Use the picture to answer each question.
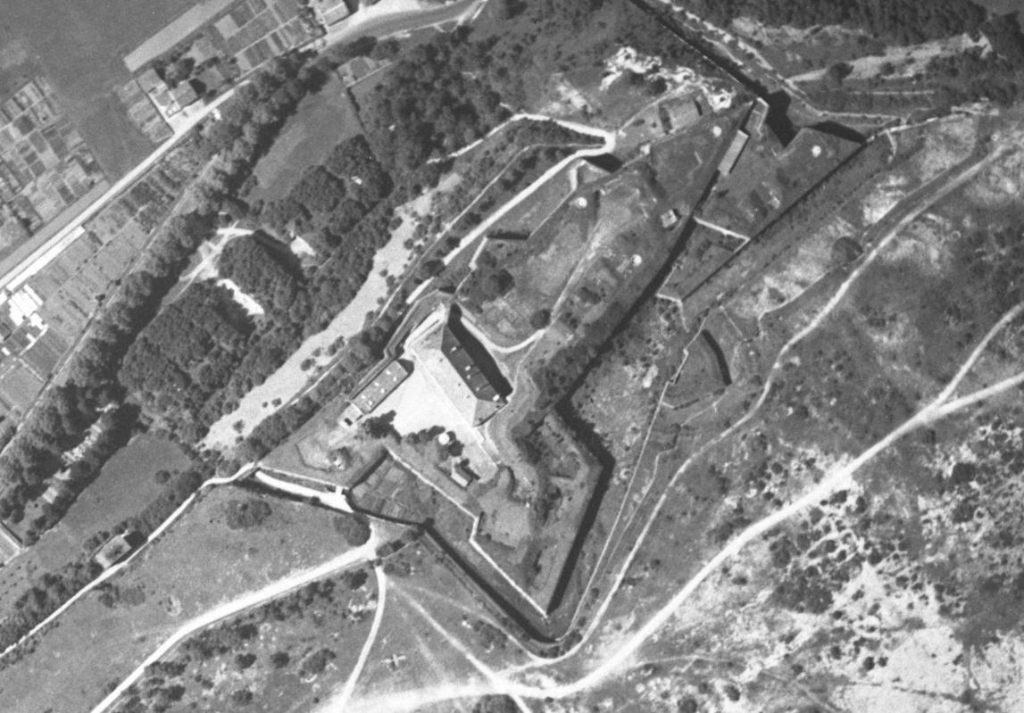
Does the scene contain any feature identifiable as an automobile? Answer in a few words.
No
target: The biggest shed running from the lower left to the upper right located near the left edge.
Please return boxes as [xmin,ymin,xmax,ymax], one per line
[8,226,86,292]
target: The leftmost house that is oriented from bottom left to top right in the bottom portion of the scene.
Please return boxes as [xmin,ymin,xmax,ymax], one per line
[97,536,132,568]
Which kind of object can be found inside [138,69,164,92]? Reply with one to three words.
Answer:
barn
